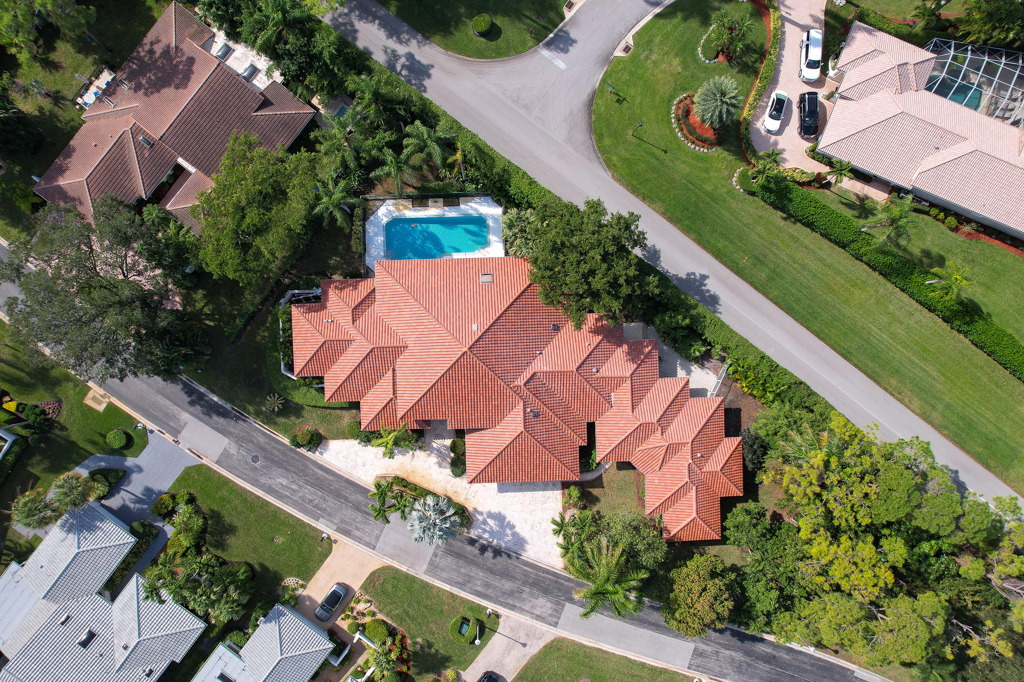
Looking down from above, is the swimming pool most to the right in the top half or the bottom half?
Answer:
top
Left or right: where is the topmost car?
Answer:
right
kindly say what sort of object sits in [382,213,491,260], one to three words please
swimming pool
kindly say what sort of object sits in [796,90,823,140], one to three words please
car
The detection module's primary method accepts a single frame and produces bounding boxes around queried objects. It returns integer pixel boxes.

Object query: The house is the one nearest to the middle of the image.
[290,256,745,543]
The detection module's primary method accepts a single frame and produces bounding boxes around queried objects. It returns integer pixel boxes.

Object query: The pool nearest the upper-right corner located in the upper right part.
[926,71,985,108]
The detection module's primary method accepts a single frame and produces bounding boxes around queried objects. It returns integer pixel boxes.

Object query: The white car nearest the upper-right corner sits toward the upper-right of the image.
[796,27,825,84]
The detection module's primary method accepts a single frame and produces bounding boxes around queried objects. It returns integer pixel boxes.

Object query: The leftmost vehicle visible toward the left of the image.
[313,577,350,626]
